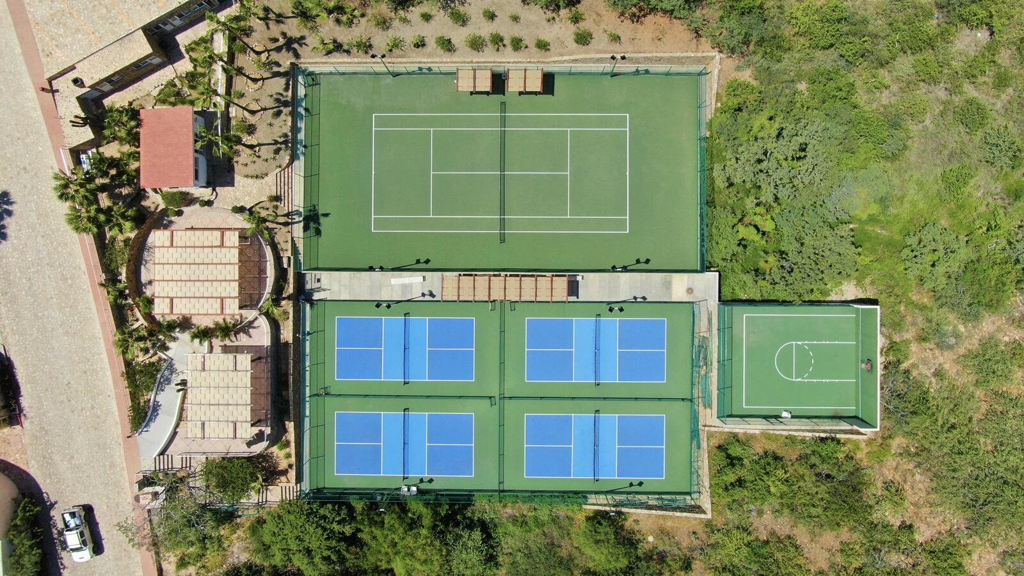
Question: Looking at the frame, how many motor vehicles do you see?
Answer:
1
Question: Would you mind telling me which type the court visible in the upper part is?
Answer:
tennis court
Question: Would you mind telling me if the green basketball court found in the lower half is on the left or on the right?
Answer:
right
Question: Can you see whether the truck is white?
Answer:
Yes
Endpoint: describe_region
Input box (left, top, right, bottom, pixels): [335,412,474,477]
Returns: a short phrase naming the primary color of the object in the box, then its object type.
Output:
blue sports court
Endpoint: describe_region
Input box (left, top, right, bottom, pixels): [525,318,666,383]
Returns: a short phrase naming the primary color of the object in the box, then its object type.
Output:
blue sports court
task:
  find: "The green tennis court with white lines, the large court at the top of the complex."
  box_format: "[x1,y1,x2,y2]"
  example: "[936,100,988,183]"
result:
[304,74,699,271]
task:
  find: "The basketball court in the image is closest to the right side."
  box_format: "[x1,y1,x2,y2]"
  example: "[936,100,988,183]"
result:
[718,304,855,420]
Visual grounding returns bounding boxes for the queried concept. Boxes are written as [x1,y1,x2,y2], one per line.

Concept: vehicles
[60,506,97,563]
